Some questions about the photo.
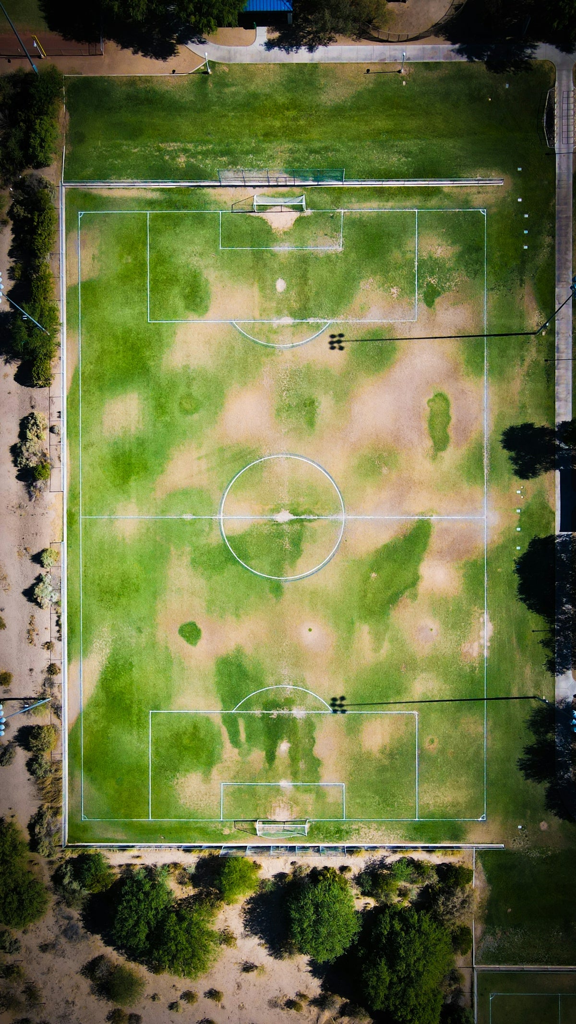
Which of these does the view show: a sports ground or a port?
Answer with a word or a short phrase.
sports ground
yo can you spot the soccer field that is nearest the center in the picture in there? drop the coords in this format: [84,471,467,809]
[65,185,502,844]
